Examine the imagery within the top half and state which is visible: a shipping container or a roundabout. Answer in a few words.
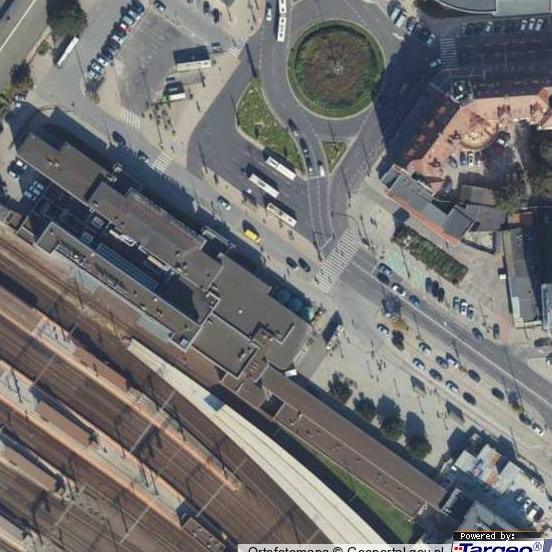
roundabout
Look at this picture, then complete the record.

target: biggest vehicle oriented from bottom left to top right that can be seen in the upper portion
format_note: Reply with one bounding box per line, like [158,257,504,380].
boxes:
[56,36,80,67]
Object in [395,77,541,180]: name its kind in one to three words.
building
